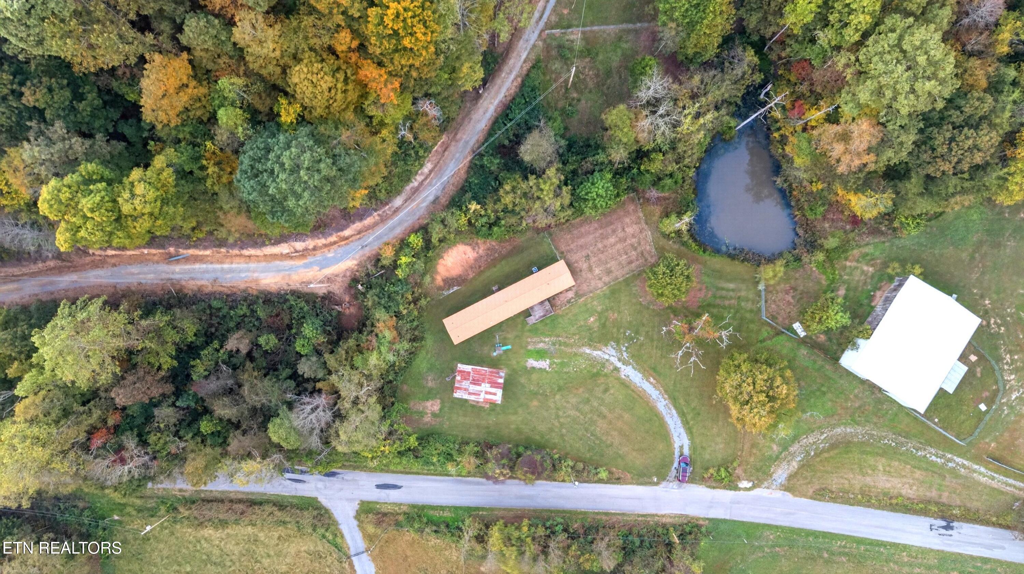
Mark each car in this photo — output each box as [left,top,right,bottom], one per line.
[677,455,691,483]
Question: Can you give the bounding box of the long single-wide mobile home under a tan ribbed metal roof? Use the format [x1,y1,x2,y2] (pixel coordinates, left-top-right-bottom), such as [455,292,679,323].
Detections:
[443,260,575,344]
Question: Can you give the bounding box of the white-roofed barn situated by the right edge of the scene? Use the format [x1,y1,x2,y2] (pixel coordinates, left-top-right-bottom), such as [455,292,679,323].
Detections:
[834,275,982,413]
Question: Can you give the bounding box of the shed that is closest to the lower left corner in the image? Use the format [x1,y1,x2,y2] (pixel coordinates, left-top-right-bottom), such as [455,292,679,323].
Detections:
[453,364,505,403]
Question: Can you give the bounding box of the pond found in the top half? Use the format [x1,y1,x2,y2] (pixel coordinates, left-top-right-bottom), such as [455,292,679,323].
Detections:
[688,78,799,266]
